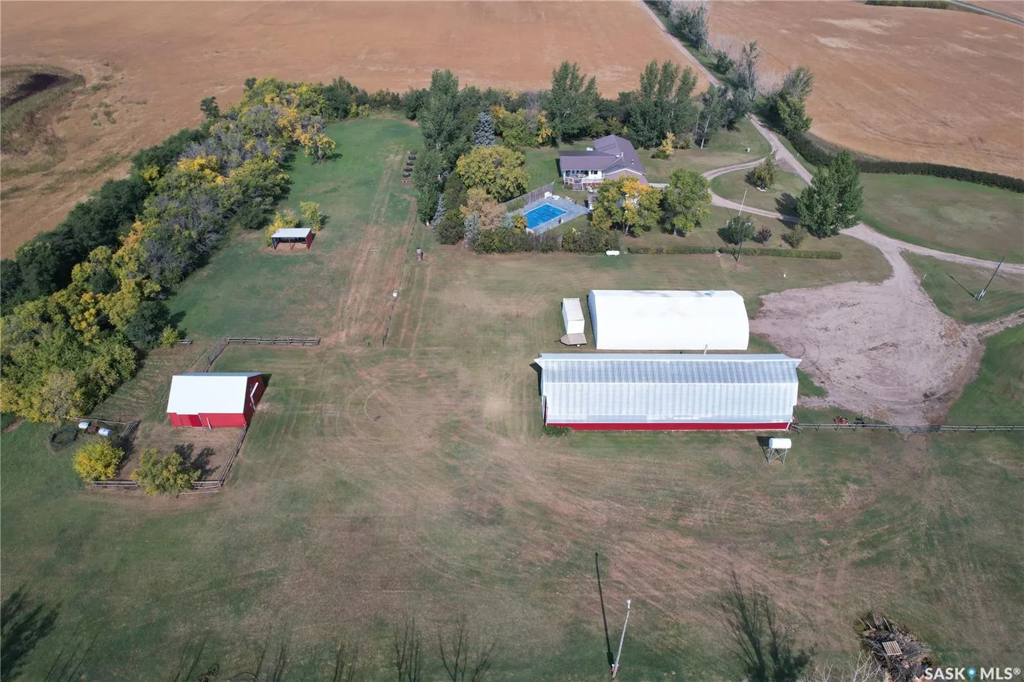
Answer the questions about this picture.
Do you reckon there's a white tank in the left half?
No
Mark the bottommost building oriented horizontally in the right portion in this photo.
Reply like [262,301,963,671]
[533,343,802,429]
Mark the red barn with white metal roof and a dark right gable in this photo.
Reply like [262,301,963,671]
[163,375,263,429]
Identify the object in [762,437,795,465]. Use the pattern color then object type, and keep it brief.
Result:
white storage tank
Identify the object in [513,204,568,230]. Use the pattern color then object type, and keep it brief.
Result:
blue swimming pool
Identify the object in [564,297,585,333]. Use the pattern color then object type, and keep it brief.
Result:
white trailer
